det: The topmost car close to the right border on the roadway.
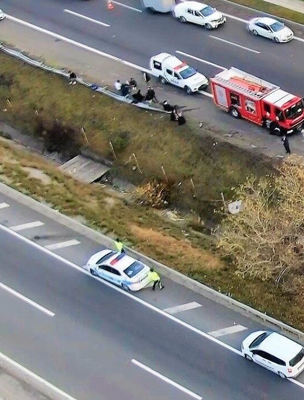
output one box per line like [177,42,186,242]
[246,17,294,44]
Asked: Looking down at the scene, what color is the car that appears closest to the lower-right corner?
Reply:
white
